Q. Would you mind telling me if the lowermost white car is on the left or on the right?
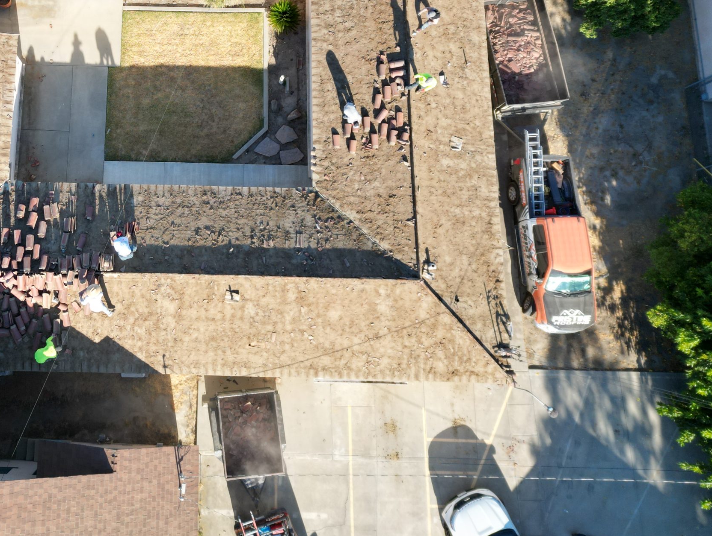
right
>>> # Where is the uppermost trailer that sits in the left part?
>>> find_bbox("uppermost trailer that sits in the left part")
[205,381,292,510]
